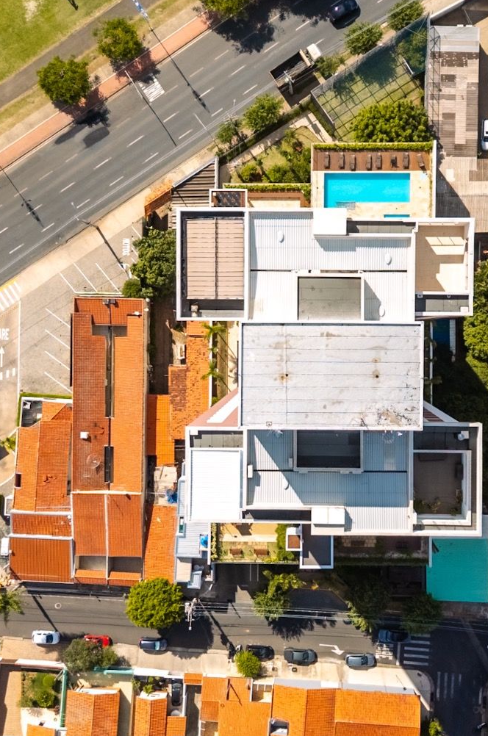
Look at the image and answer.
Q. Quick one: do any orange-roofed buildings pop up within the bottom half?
Yes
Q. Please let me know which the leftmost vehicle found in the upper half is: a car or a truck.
truck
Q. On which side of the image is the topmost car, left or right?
right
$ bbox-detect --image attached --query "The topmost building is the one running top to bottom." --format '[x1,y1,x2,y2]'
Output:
[429,27,479,162]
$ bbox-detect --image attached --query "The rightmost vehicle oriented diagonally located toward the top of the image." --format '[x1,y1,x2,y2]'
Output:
[328,0,359,24]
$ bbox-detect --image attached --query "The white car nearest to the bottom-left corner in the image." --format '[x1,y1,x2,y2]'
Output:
[31,629,60,645]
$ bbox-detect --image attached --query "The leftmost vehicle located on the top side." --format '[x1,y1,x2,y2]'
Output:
[265,40,323,88]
